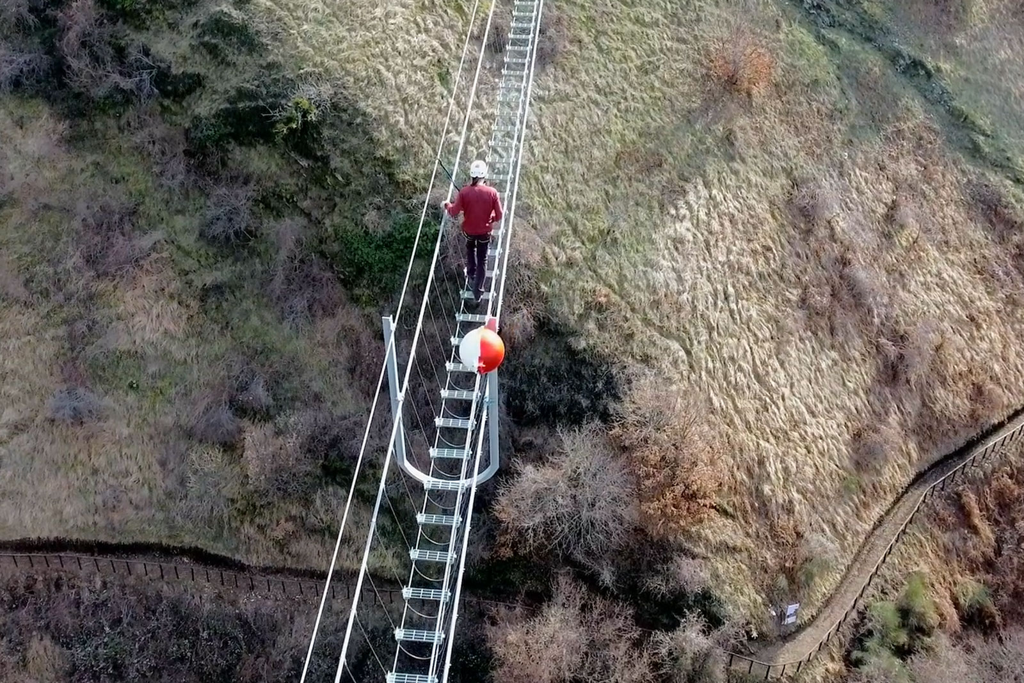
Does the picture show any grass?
Yes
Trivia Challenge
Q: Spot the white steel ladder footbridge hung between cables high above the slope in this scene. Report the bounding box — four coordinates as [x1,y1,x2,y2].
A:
[301,0,544,683]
